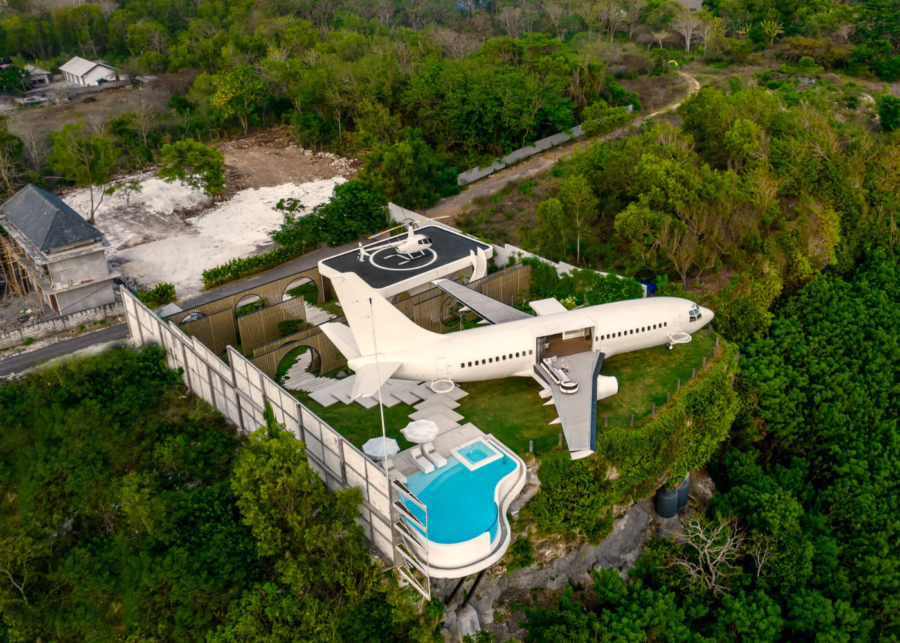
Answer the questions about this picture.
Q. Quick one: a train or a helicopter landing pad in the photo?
helicopter landing pad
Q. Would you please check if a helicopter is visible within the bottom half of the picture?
No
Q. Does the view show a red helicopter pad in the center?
No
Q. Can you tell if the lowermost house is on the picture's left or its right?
left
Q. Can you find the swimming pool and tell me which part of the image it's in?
bottom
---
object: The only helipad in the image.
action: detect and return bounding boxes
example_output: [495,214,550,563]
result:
[323,225,489,314]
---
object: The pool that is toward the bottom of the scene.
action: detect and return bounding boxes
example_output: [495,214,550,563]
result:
[398,435,527,603]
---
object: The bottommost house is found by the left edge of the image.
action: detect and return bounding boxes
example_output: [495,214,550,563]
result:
[0,187,121,314]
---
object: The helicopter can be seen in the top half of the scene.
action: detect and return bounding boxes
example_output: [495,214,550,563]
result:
[356,217,449,264]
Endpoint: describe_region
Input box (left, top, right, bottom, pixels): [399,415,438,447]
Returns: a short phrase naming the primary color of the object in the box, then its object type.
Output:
white umbrella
